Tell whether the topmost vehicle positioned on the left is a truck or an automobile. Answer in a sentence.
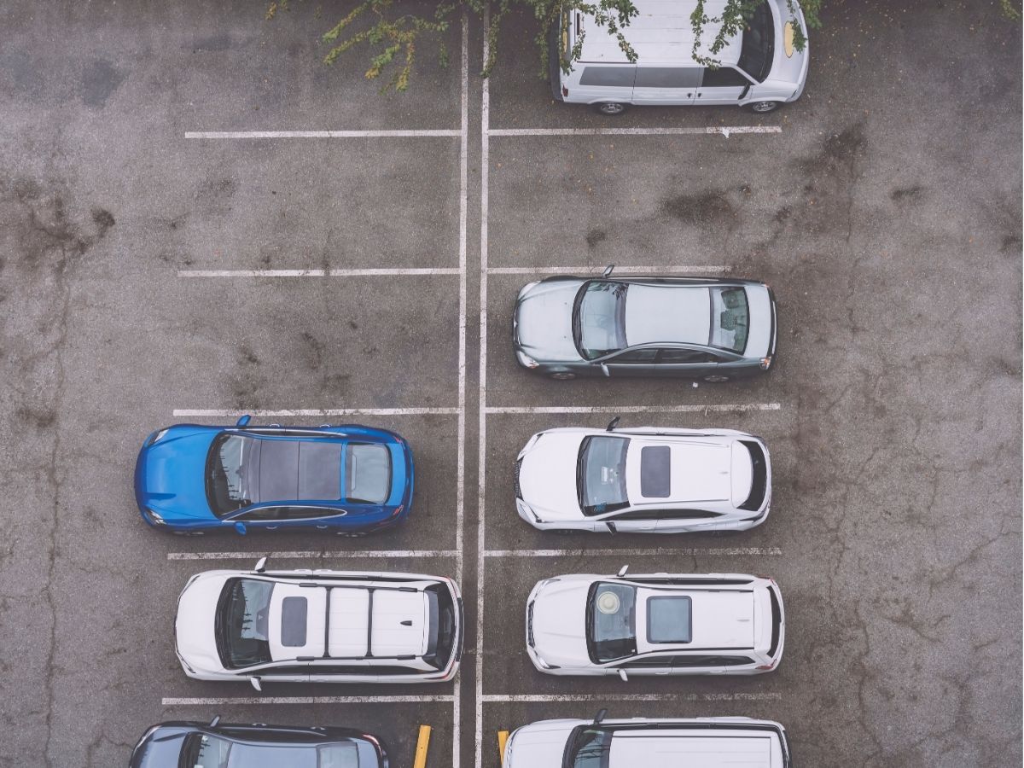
What you see as the topmost vehicle positioned on the left is an automobile.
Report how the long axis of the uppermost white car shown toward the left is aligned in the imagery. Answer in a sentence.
The uppermost white car shown toward the left is laid out from side to side.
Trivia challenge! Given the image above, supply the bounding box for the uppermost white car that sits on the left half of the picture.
[173,560,463,688]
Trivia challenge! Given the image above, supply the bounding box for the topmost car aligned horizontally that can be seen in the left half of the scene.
[136,413,415,537]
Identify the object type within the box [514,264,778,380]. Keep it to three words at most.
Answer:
car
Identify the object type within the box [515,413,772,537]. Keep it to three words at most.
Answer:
car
